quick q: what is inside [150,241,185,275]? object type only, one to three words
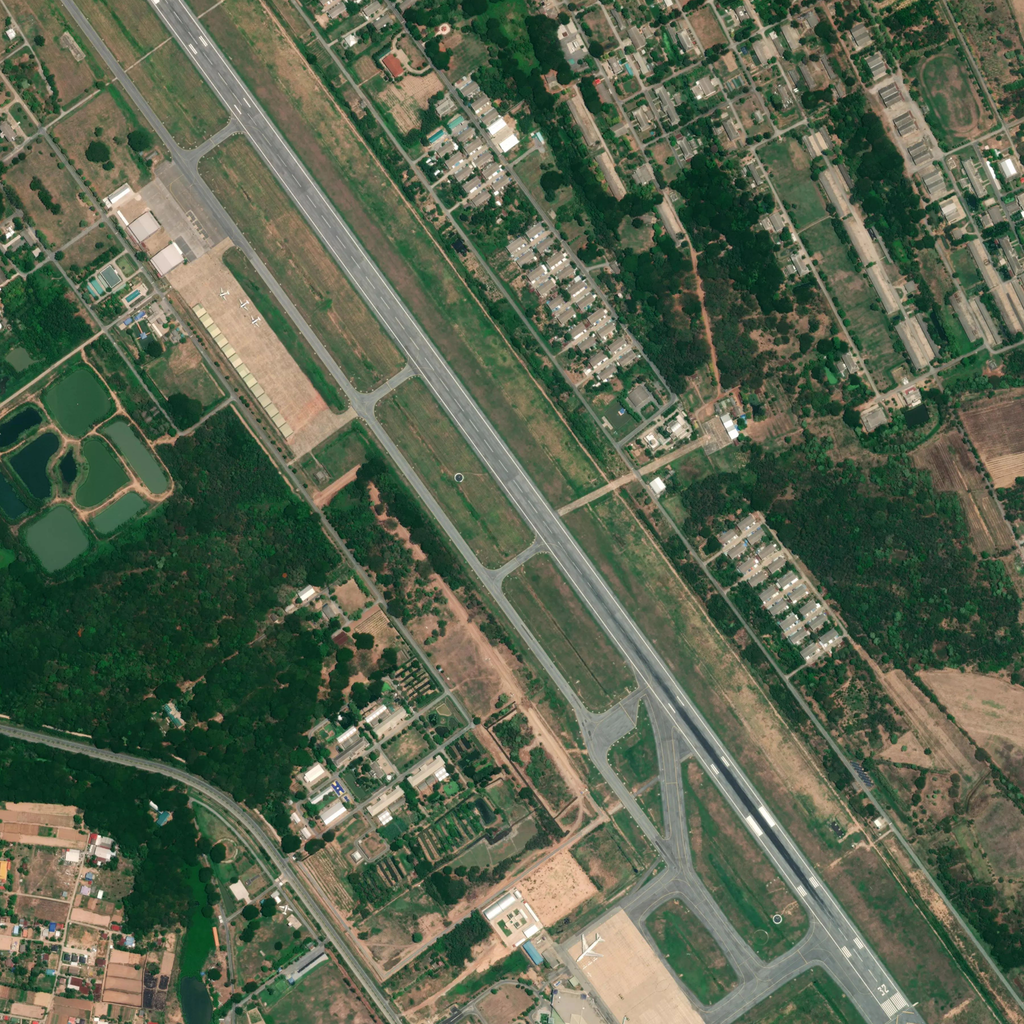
hangar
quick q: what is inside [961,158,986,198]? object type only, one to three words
house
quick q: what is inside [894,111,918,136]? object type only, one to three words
building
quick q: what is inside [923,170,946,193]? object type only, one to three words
building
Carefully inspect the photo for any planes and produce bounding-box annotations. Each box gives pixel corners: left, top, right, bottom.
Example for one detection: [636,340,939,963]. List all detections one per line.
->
[576,933,605,962]
[220,287,230,301]
[252,315,261,327]
[240,298,249,310]
[280,905,292,914]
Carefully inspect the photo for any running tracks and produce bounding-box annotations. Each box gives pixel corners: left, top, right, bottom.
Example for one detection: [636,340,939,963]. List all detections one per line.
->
[919,52,984,137]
